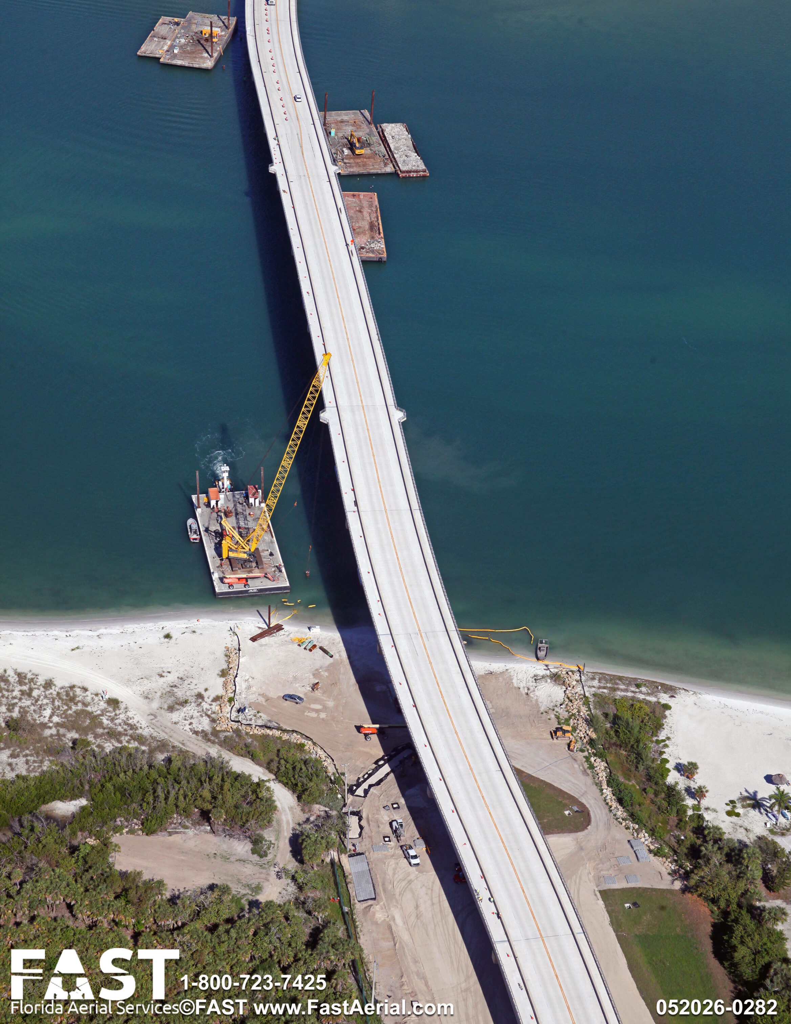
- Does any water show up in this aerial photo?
Yes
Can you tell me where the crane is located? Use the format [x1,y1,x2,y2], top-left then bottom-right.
[213,353,336,575]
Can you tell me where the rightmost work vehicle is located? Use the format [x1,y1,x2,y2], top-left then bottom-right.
[554,726,572,741]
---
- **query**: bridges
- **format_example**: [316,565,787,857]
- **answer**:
[245,0,628,1024]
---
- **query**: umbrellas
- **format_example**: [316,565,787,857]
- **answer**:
[773,772,790,785]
